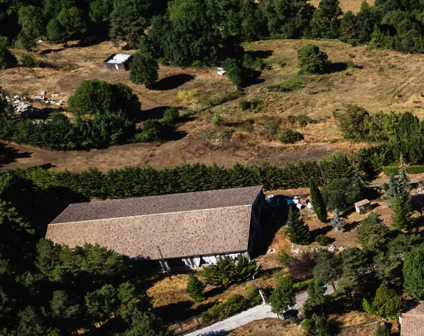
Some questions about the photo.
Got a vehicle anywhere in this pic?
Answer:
No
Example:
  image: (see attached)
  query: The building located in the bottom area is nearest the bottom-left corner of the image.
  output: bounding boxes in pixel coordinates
[40,185,264,284]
